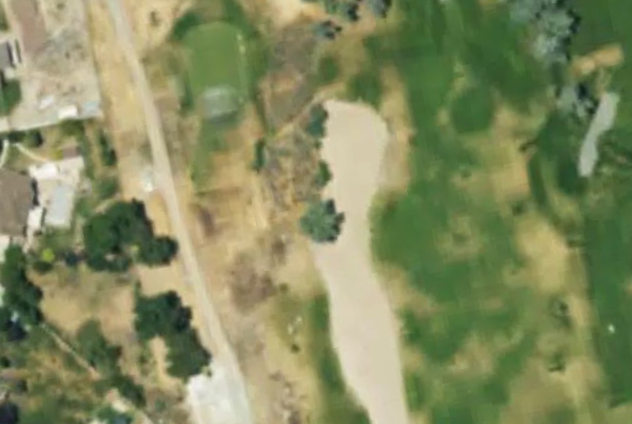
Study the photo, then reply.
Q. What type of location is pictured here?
golf course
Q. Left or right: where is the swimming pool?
left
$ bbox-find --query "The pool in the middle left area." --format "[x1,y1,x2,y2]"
[49,184,72,219]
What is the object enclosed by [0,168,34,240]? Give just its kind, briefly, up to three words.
house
